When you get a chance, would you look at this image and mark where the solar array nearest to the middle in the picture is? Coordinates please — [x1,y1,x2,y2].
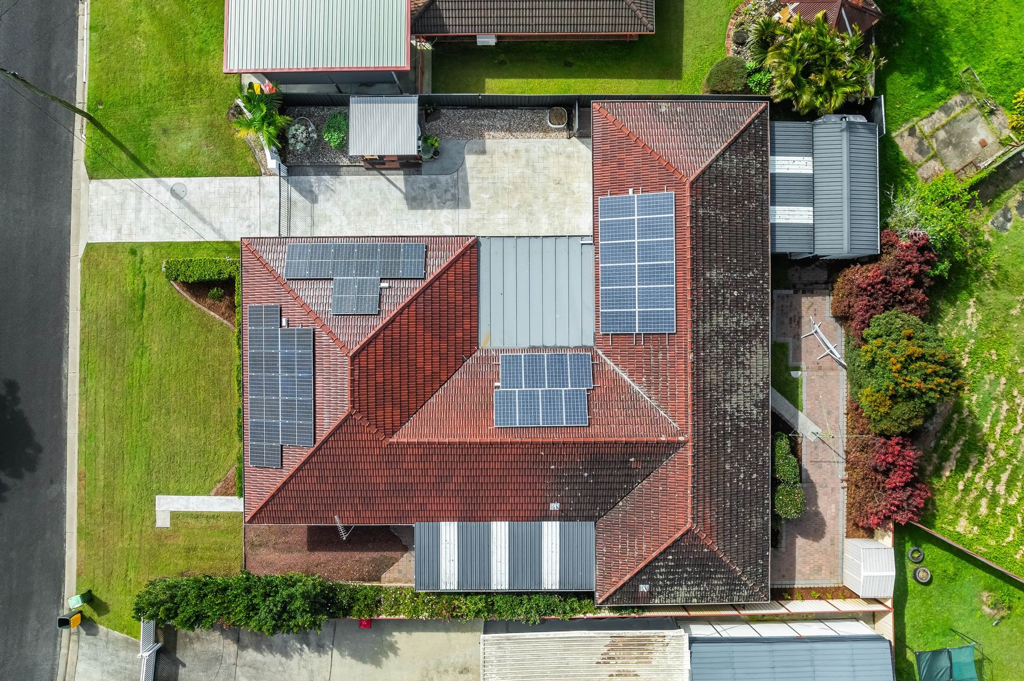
[490,352,601,426]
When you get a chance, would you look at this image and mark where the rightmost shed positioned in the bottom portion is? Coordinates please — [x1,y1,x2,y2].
[842,536,898,599]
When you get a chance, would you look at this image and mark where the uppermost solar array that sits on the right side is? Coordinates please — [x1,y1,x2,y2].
[599,185,676,344]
